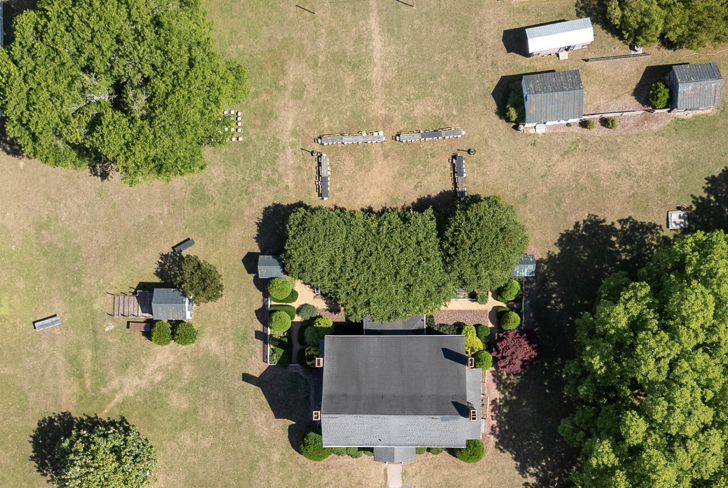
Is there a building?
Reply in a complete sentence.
Yes, you can see a building in this photo.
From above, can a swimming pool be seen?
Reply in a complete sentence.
No, there appears to be no swimming pool in this shot.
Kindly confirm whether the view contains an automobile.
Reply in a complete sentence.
No, I find no automobile anywhere in the image.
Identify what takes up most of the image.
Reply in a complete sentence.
The bulk of the photo consists of grass.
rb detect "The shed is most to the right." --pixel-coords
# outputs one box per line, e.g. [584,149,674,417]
[663,61,725,117]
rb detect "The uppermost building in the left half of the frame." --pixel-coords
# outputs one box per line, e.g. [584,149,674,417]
[258,255,283,279]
